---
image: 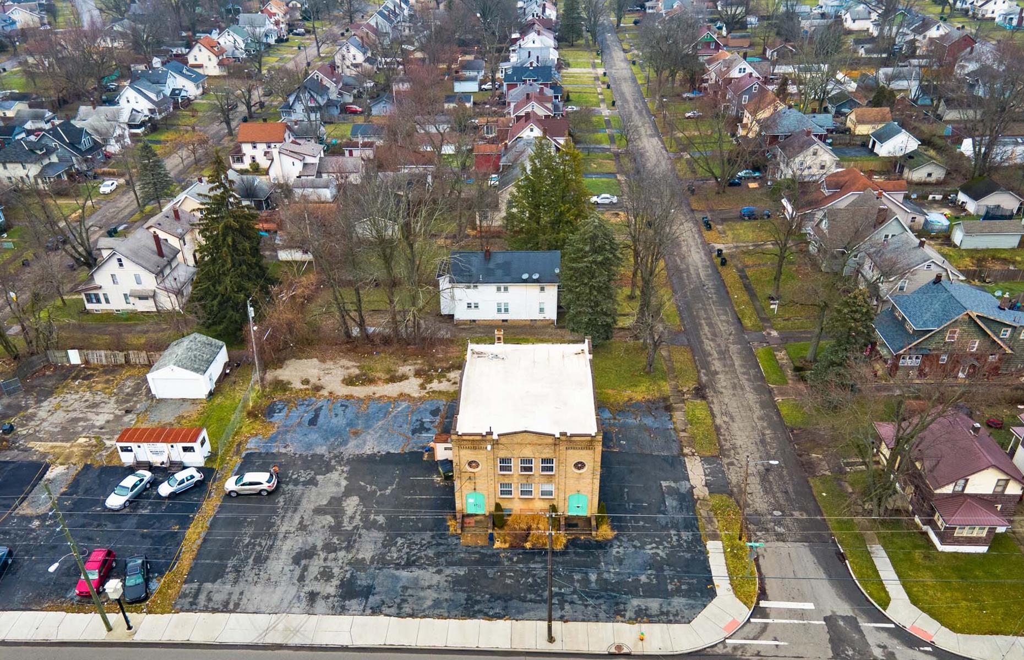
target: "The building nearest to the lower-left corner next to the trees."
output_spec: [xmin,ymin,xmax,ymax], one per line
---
[146,321,238,395]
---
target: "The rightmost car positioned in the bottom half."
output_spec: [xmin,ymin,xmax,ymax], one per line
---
[221,471,280,499]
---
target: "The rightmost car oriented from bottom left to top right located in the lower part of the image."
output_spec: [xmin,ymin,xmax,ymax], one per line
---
[155,464,206,501]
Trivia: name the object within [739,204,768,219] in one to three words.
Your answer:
car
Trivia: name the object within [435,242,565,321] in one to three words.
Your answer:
house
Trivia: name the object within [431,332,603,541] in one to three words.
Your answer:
building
